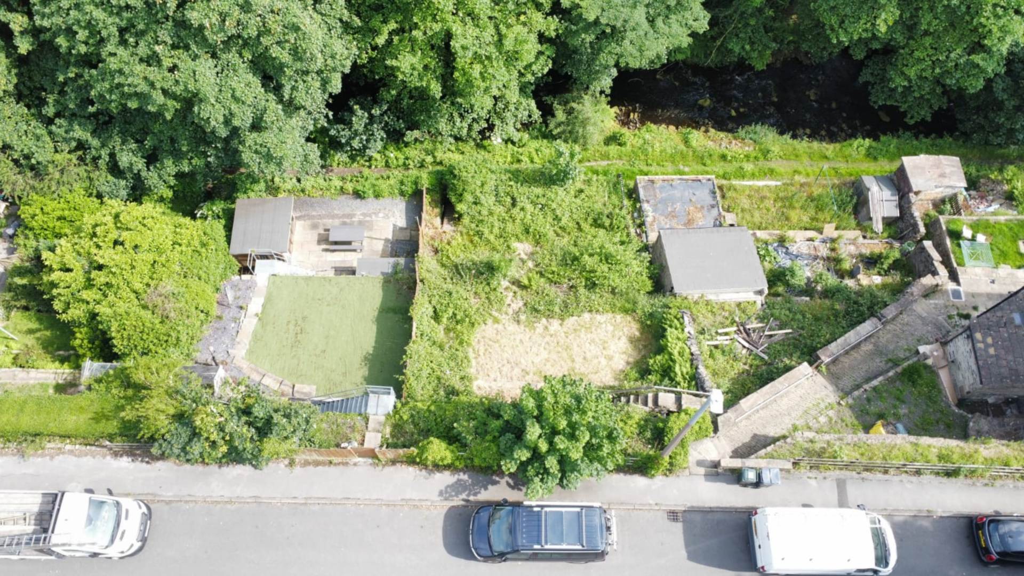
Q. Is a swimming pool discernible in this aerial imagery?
No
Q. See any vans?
Yes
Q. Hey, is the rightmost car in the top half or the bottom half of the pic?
bottom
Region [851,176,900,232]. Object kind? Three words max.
shed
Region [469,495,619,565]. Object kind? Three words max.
van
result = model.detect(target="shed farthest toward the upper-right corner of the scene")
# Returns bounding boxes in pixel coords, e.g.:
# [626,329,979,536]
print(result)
[888,154,967,212]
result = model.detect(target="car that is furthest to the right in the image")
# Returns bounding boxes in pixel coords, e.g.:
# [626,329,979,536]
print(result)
[972,513,1024,565]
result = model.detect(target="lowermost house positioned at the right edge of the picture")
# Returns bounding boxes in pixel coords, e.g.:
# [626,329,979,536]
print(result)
[938,283,1024,417]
